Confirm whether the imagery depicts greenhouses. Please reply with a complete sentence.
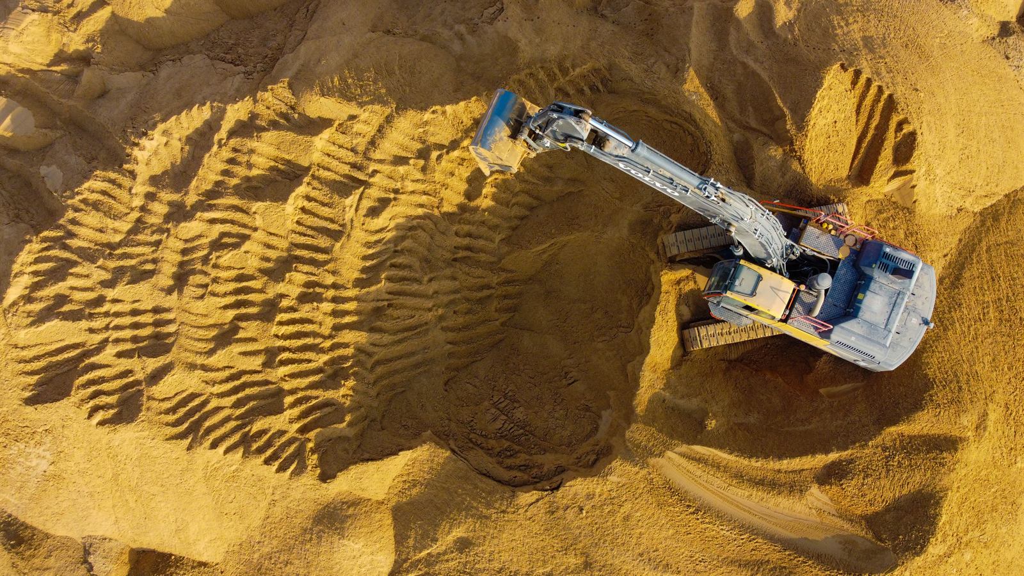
No, no greenhouse can be seen from above.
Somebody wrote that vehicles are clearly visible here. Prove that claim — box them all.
[469,88,935,373]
